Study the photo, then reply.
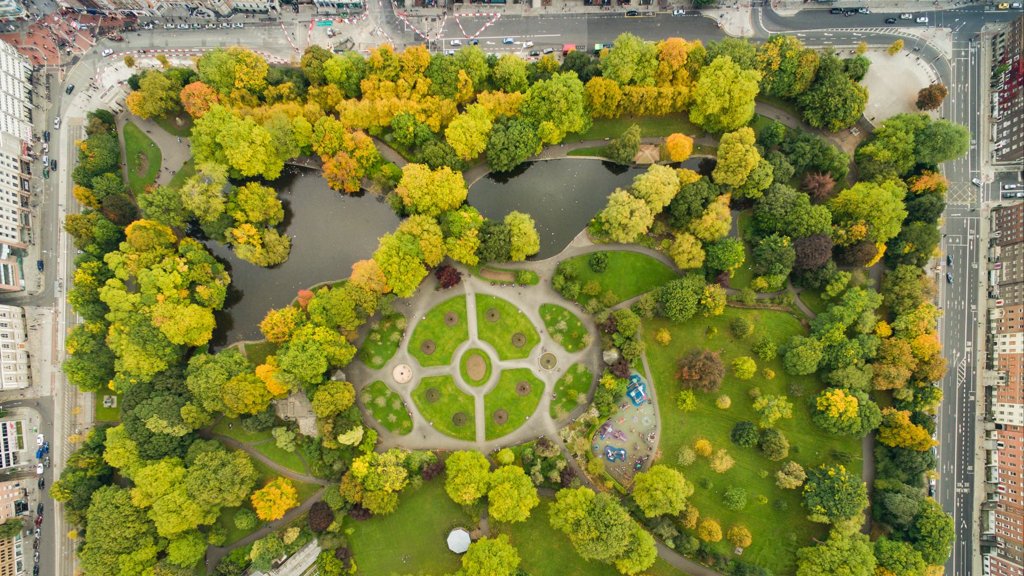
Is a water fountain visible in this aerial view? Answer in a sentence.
Yes, I can see a water fountain in this picture.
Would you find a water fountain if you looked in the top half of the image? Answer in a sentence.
No, I can find no water fountain in the top half of the image.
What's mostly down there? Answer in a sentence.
What you mostly see from above here is trees.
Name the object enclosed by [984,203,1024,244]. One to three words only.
house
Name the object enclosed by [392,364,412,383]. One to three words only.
fountain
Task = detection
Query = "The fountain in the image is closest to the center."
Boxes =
[539,352,558,371]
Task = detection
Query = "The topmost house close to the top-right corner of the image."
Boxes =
[992,14,1024,64]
